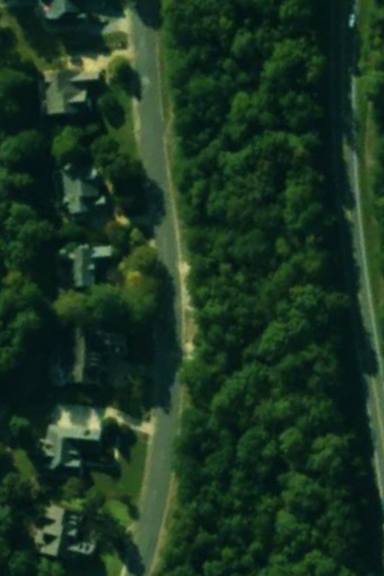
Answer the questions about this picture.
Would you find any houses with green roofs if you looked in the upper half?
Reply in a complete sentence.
Yes, there is a house with a green roof in the upper half.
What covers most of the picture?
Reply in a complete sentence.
What you mostly see from above here is trees.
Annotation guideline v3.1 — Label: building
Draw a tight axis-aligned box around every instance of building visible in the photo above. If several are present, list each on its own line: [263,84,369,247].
[67,245,112,287]
[32,507,96,569]
[73,329,100,385]
[60,171,106,214]
[39,425,101,471]
[41,69,99,114]
[37,0,88,24]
